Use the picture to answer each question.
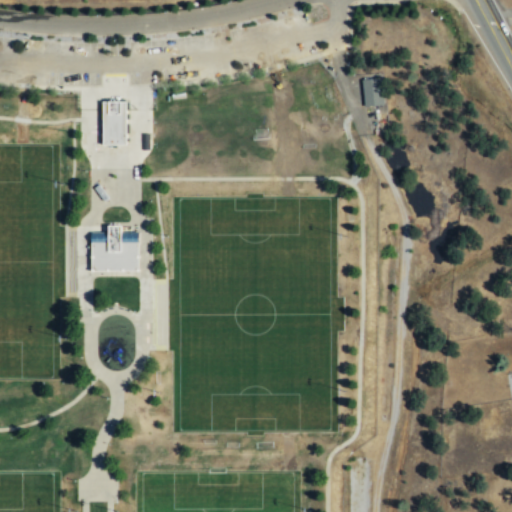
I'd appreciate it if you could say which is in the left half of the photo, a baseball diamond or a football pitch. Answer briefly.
football pitch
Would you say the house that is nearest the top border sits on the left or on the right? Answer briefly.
right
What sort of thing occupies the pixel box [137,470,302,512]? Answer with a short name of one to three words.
soccer field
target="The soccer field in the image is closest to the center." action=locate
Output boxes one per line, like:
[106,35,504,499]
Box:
[174,194,345,436]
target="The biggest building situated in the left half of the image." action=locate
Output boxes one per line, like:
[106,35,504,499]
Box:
[90,226,142,272]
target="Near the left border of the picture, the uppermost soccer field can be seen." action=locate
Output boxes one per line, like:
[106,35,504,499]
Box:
[0,144,60,382]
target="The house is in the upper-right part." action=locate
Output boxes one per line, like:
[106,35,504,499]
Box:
[364,78,386,106]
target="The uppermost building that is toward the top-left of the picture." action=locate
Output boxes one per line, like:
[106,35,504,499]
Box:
[102,99,128,146]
